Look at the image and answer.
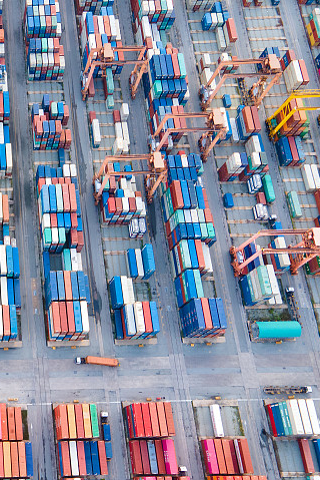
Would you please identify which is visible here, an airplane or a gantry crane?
gantry crane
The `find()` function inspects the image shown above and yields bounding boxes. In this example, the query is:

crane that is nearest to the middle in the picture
[93,153,170,205]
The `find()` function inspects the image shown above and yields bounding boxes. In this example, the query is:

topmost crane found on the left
[81,45,148,102]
